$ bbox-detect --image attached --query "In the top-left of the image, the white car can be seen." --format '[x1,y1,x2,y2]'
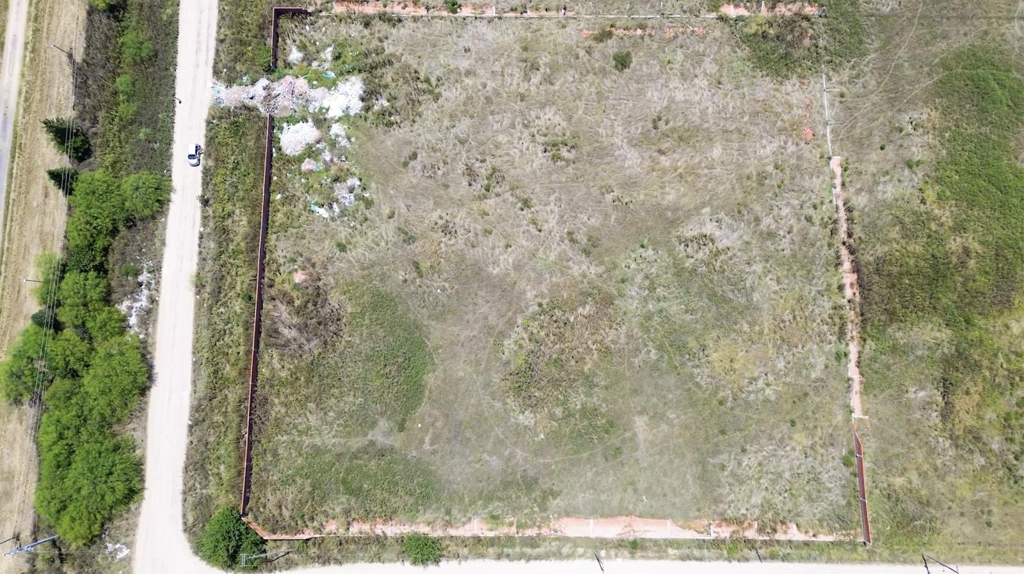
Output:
[187,143,205,167]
